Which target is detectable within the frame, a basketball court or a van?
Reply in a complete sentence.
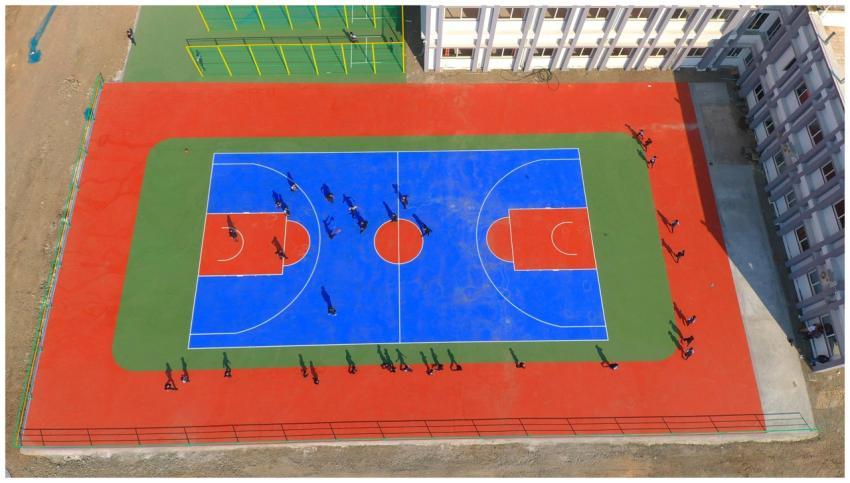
This aerial view contains a basketball court.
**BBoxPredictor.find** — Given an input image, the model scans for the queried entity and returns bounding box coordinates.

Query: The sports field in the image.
[123,0,409,84]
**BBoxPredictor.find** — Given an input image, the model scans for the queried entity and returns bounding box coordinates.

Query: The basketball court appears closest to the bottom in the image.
[22,83,766,447]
